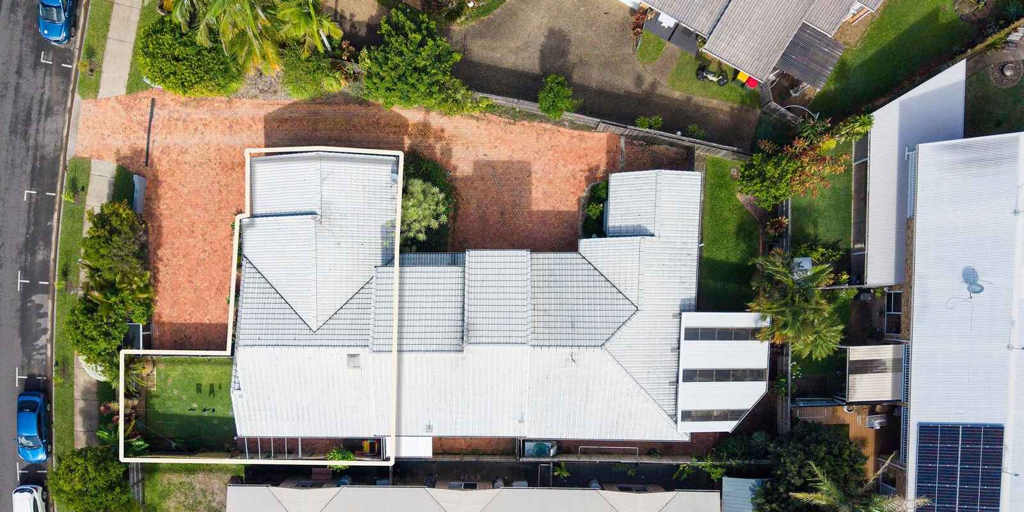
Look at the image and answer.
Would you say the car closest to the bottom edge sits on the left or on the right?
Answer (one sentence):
You can find the car closest to the bottom edge on the left side of the picture.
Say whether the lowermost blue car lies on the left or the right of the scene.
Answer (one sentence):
You can find the lowermost blue car on the left side of the picture.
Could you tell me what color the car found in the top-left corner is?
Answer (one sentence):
The car found in the top-left corner looks blue in the image.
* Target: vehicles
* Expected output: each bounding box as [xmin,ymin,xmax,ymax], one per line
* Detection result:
[13,391,55,465]
[32,0,74,45]
[694,65,729,82]
[11,484,51,512]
